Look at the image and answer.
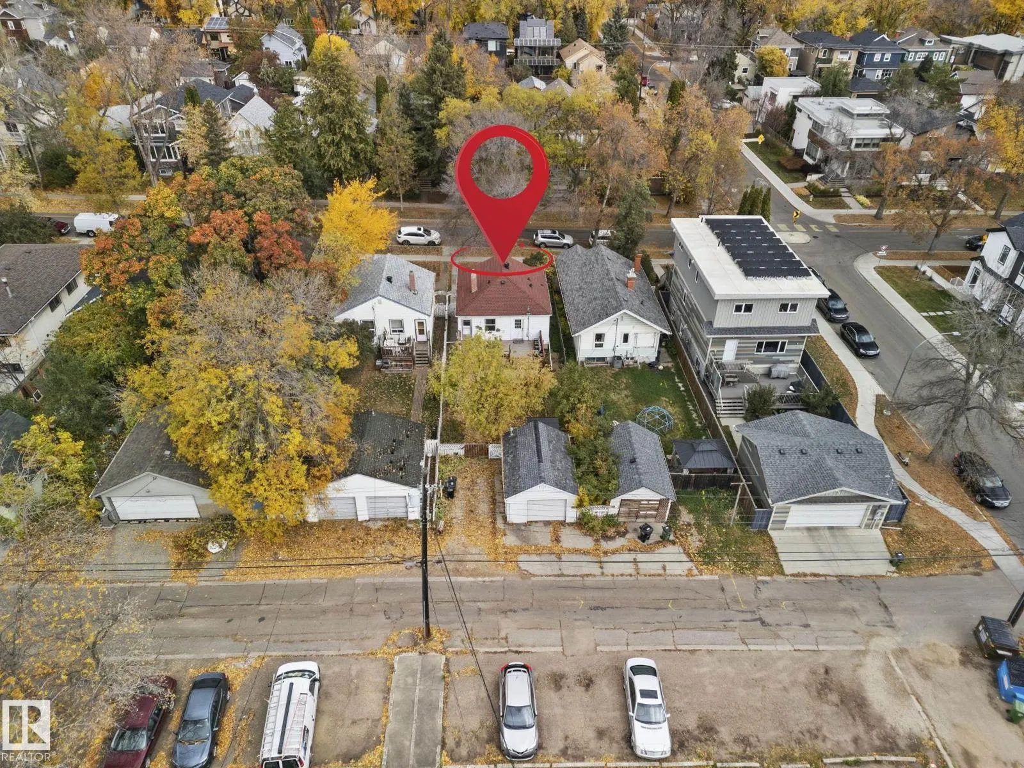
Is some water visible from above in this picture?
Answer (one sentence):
No, no water is visible.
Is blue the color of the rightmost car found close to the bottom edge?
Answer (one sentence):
No, the color of the rightmost car found close to the bottom edge is white.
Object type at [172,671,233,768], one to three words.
car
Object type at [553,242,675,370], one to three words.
house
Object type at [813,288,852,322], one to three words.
car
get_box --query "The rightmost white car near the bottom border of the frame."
[622,663,673,766]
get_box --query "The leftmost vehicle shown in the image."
[24,217,72,235]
